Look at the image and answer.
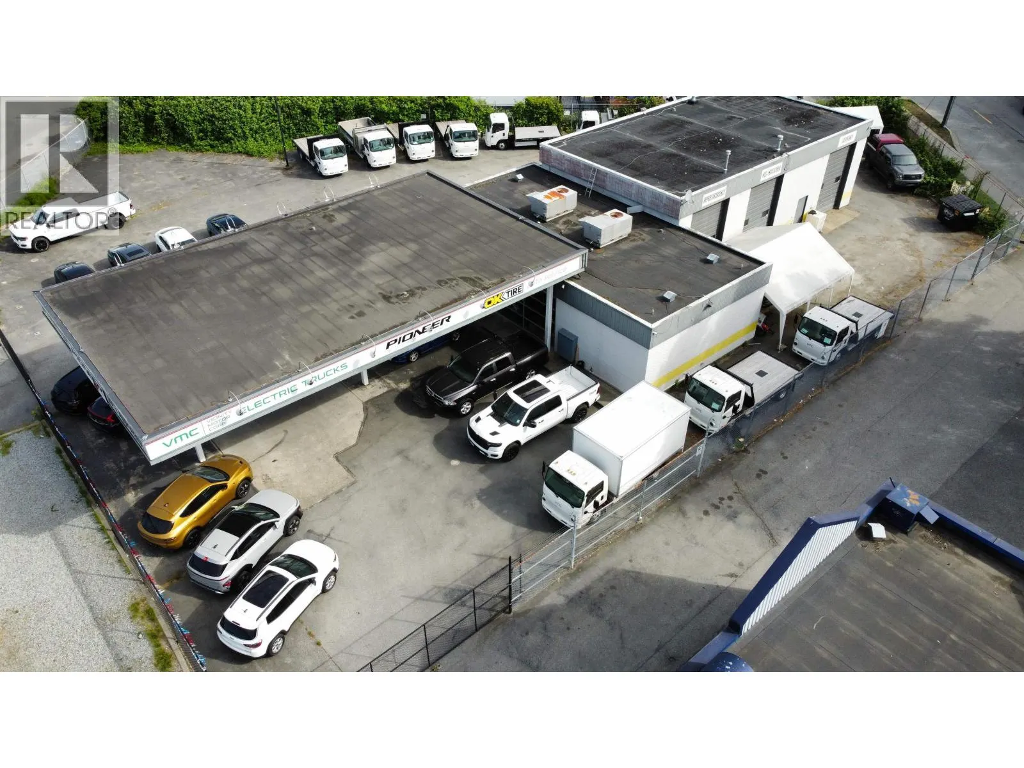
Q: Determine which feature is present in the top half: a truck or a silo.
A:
truck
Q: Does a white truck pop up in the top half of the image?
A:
Yes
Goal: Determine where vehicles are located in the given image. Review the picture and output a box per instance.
[4,194,136,251]
[861,135,923,188]
[160,229,201,251]
[543,382,694,527]
[684,351,803,432]
[184,493,301,597]
[573,110,612,136]
[483,115,557,151]
[51,360,102,412]
[51,258,96,286]
[458,364,602,463]
[344,113,401,163]
[795,296,895,363]
[415,328,549,416]
[108,243,153,269]
[92,394,127,430]
[136,459,252,554]
[430,117,482,154]
[216,545,338,664]
[389,118,438,156]
[208,213,249,238]
[297,132,351,172]
[392,326,466,361]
